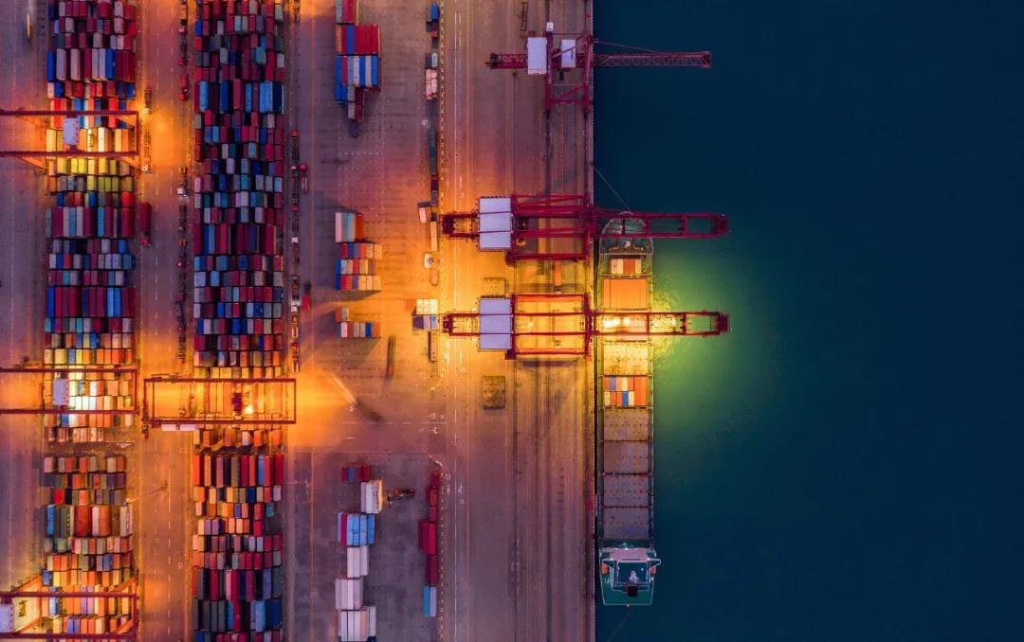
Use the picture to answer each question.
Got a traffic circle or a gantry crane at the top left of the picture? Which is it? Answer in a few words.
gantry crane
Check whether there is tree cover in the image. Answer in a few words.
No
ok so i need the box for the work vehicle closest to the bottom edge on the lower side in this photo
[385,487,414,505]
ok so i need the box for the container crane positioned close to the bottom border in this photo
[0,570,146,640]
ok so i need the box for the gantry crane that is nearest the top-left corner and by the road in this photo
[0,109,149,174]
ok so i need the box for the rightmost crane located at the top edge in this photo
[480,21,710,119]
